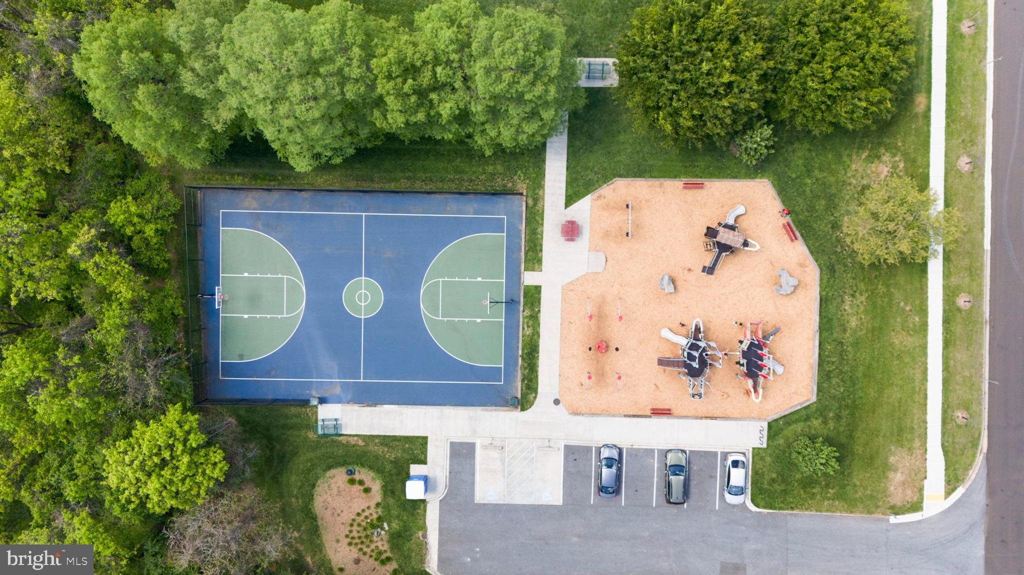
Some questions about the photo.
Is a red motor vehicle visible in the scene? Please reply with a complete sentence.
No, the picture doesn't show any red motor vehicle.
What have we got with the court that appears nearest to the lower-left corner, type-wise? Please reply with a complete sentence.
In the photo, the court that appears nearest to the lower-left corner shows up as a basketball court.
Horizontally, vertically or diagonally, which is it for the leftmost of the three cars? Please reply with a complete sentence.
I'd say the leftmost of the three cars is aligned vertically in the picture.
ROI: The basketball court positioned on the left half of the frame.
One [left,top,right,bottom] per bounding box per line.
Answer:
[197,189,526,413]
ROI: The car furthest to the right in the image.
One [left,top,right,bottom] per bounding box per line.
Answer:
[722,452,749,504]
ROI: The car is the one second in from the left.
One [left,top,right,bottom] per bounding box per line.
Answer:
[664,448,690,505]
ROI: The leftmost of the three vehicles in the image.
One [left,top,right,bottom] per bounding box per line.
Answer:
[597,444,622,498]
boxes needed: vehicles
[664,448,690,505]
[597,444,622,498]
[722,452,749,504]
